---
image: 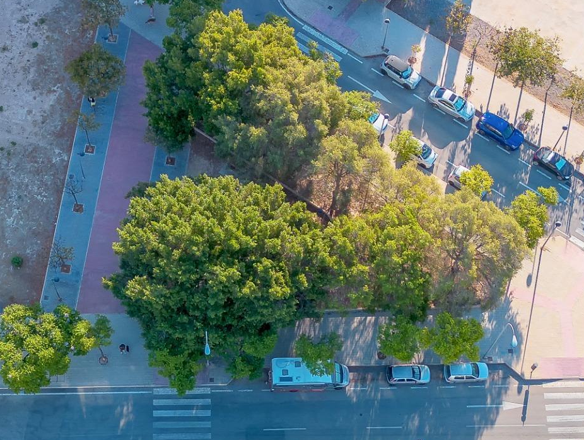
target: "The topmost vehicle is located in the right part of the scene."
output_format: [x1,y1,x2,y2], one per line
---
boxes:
[381,56,420,89]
